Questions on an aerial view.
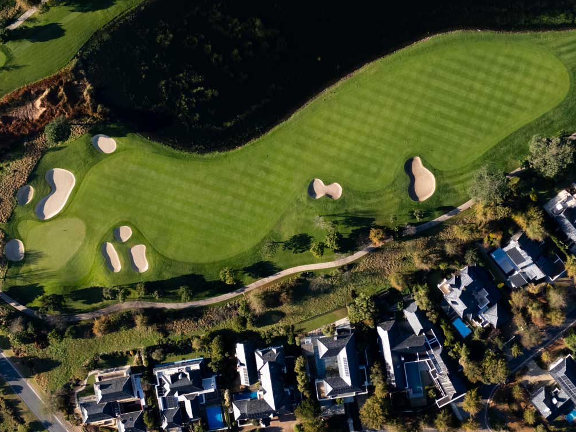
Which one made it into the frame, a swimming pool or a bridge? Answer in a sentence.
Of the two, only a swimming pool appears.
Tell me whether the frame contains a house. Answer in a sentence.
Yes, this view includes a house.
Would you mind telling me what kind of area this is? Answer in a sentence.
This image shows a golf course.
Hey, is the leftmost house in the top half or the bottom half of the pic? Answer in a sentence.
Seen from above, the leftmost house lies in the bottom half of the view.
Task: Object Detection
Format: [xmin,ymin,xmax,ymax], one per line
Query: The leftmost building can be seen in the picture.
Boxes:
[77,361,147,432]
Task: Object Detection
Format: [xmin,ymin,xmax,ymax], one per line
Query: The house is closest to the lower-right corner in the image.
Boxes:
[526,355,576,420]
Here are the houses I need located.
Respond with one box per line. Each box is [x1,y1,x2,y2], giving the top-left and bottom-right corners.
[435,263,510,330]
[154,354,217,432]
[375,304,464,406]
[77,361,147,432]
[305,328,367,401]
[526,355,576,420]
[544,175,576,260]
[230,337,290,427]
[505,232,563,288]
